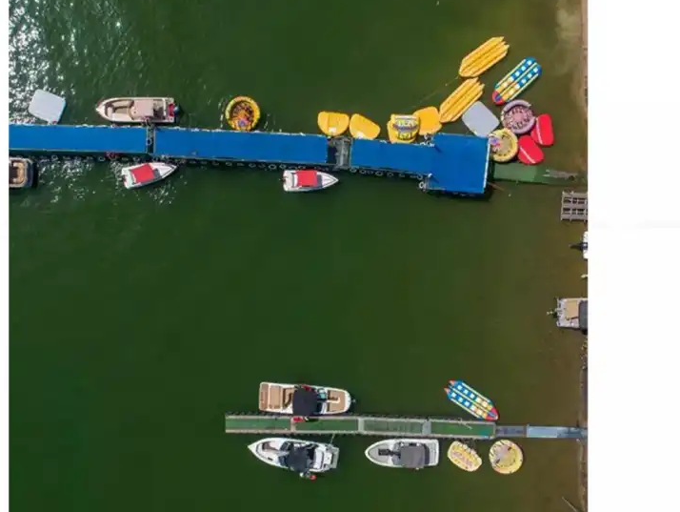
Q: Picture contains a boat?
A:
Yes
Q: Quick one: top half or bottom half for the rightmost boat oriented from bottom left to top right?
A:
top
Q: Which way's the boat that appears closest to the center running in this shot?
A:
from side to side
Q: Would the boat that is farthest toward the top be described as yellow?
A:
Yes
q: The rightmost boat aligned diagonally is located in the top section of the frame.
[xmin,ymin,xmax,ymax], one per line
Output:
[492,55,546,107]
